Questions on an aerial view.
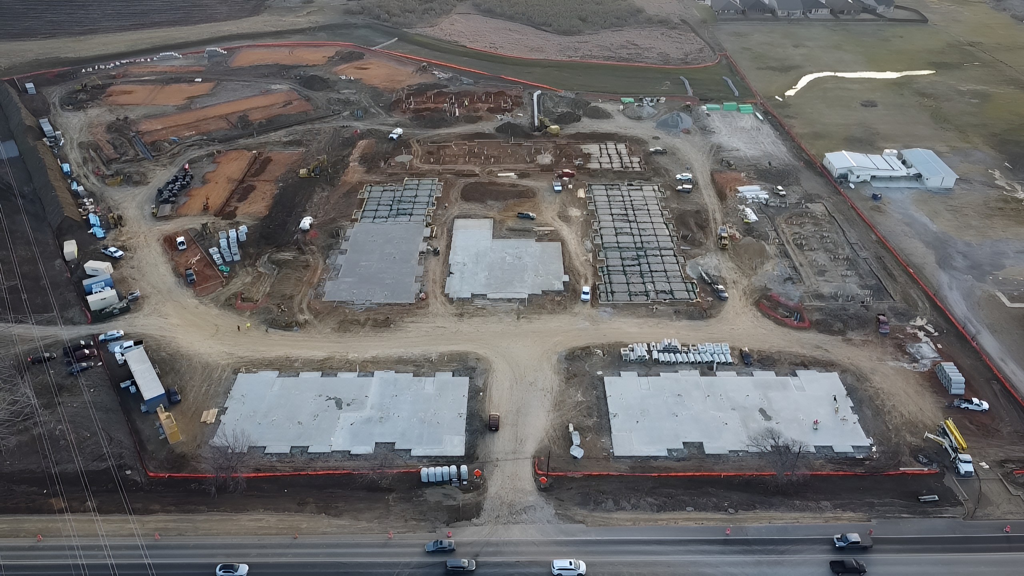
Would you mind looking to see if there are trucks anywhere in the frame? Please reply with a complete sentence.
Yes, I can see a truck in this picture.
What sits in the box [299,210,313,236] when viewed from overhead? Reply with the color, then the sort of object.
white vehicle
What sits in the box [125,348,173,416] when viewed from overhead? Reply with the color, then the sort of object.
white trailer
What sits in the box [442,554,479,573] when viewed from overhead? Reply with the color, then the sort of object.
gray vehicle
